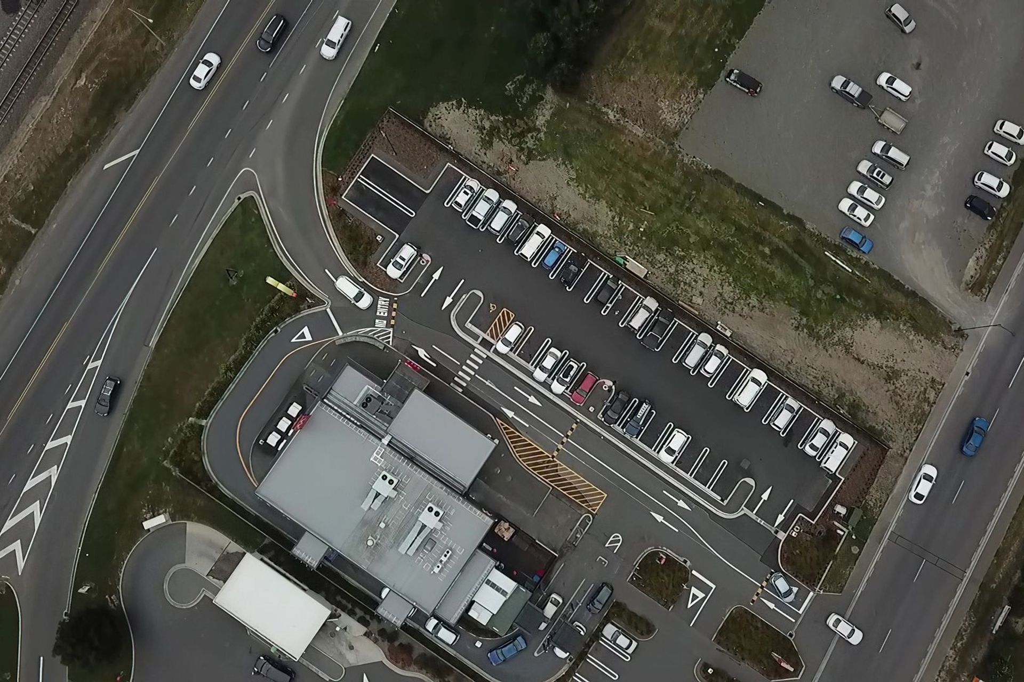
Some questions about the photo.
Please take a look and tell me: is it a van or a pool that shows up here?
van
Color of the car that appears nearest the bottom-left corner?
black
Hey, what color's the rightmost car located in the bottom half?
blue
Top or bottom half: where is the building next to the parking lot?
bottom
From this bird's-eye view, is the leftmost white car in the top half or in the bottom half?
top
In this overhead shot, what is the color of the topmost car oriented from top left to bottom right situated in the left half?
white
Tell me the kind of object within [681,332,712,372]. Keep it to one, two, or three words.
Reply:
car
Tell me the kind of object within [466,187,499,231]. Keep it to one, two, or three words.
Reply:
truck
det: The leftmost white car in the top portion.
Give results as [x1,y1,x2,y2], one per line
[190,51,222,93]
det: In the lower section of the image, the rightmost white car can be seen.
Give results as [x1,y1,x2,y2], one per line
[906,462,936,506]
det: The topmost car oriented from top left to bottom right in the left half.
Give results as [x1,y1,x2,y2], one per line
[335,274,374,310]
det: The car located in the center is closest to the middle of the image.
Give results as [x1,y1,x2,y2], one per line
[496,319,525,355]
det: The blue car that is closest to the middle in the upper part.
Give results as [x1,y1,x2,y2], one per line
[540,240,566,272]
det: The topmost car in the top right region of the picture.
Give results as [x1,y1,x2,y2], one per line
[881,2,916,36]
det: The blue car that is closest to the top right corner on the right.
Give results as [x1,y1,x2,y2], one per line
[836,225,875,255]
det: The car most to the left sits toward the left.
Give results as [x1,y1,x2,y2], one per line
[95,375,123,416]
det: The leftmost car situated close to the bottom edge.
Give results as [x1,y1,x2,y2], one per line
[254,654,296,682]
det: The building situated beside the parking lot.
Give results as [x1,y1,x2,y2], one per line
[255,360,498,629]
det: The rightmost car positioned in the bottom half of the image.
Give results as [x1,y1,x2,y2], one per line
[959,416,988,459]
